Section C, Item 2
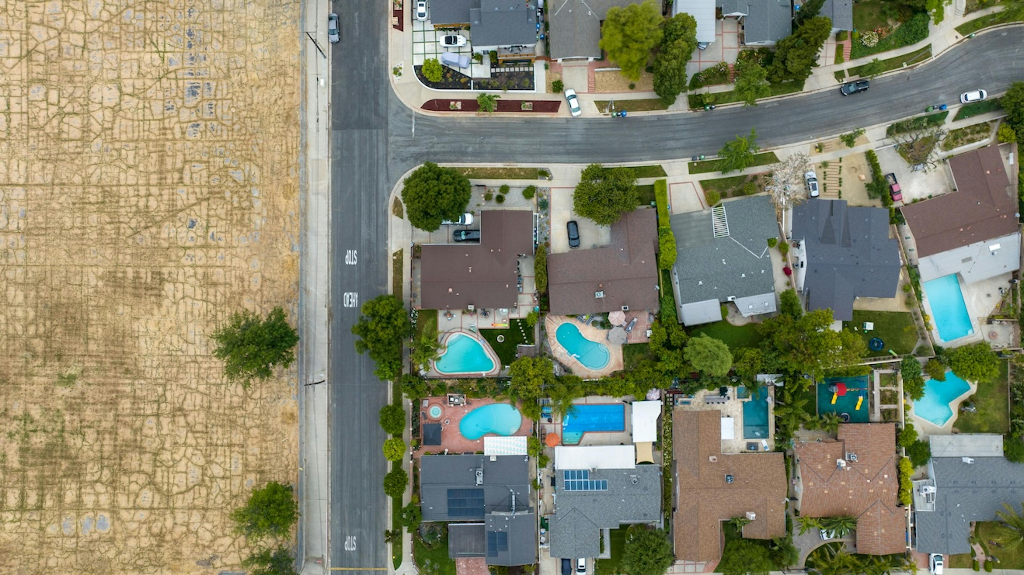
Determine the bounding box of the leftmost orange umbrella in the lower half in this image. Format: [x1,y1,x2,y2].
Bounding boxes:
[545,433,559,447]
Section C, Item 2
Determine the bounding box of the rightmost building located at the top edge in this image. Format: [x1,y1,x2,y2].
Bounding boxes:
[819,0,852,33]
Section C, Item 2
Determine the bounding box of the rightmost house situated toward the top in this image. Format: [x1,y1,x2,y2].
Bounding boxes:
[899,144,1021,258]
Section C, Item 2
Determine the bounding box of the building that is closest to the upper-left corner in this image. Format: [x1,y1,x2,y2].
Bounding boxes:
[430,0,536,49]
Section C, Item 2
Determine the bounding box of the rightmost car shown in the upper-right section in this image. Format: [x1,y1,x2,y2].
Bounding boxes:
[958,89,987,104]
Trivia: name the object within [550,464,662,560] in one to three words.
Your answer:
house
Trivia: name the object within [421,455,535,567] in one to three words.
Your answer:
house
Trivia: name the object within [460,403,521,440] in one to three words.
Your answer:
swimming pool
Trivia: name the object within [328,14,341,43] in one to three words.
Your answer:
vehicle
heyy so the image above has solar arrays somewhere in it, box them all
[448,509,485,517]
[565,471,589,480]
[565,481,607,491]
[488,532,498,557]
[448,490,484,499]
[498,532,507,551]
